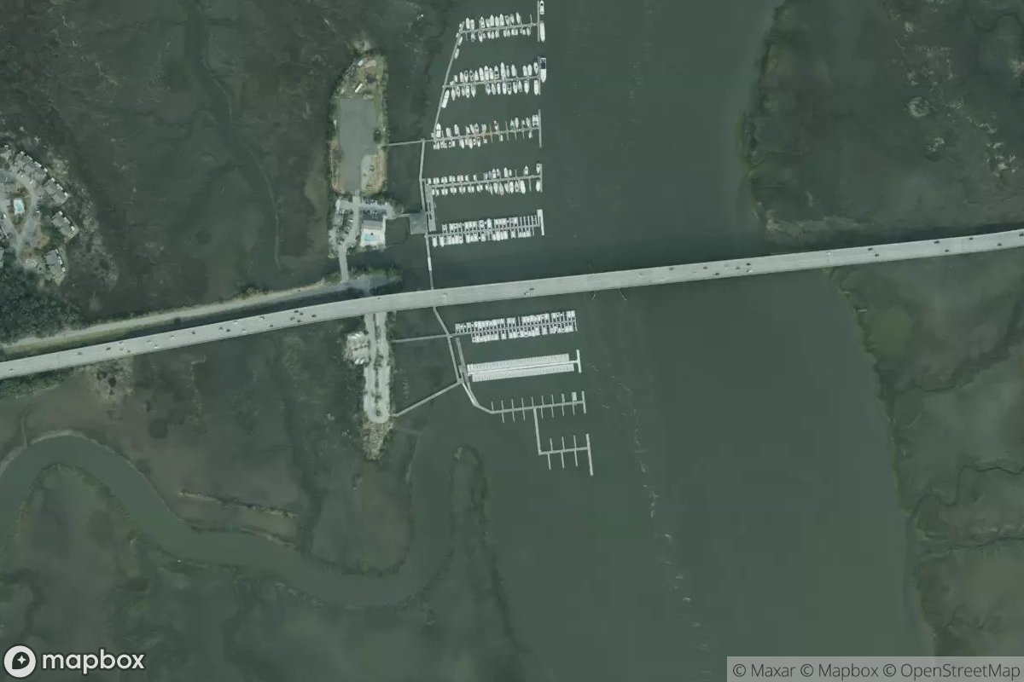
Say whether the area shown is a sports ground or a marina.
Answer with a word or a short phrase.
marina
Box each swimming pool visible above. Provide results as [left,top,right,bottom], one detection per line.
[361,229,383,246]
[14,199,25,215]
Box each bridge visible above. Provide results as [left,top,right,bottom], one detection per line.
[0,229,1024,379]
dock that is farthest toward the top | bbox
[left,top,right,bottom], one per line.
[461,0,540,41]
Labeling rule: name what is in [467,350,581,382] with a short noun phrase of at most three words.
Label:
pier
